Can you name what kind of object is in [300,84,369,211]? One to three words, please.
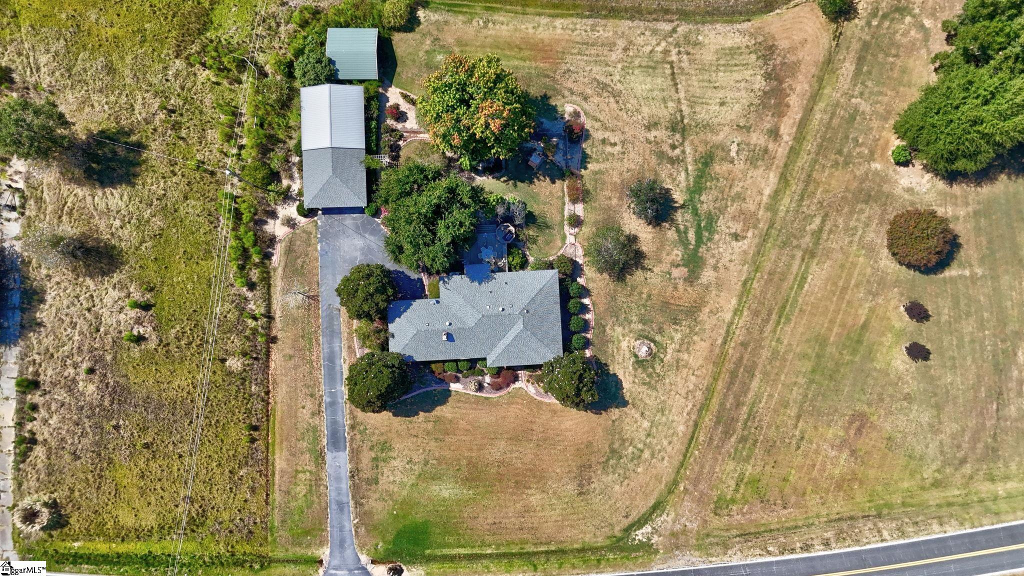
building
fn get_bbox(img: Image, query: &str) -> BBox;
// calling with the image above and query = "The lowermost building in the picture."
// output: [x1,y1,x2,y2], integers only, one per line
[387,263,563,368]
